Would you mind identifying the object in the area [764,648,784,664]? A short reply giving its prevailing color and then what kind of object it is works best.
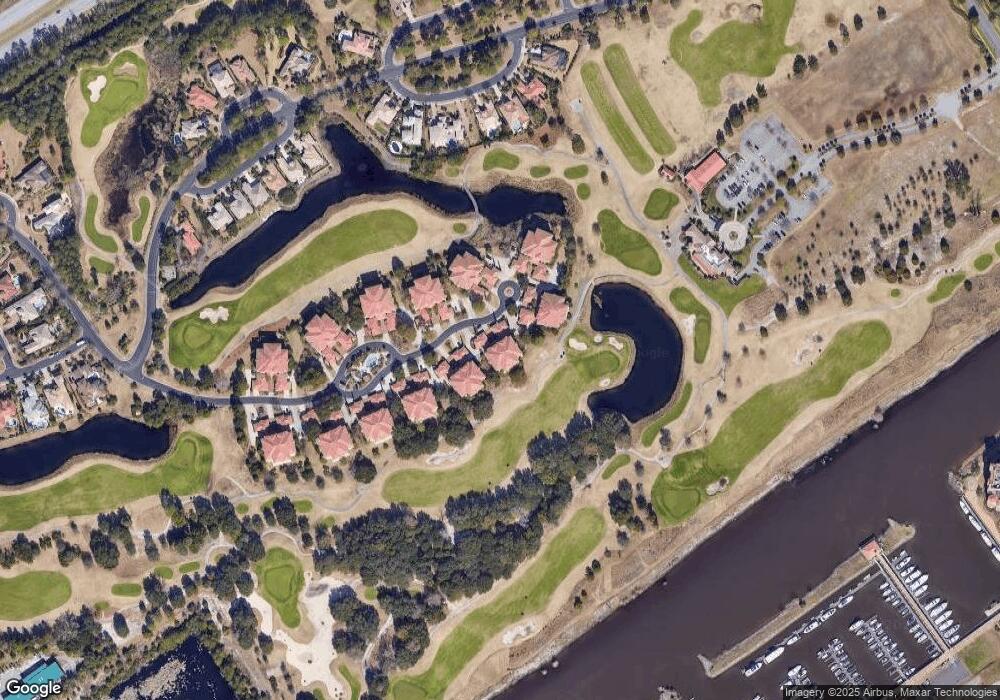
white boat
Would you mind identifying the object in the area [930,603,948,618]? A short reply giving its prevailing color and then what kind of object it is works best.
white boat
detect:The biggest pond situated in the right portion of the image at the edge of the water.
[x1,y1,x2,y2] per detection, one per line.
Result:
[588,283,682,420]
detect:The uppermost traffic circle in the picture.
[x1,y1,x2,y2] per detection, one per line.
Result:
[719,221,748,250]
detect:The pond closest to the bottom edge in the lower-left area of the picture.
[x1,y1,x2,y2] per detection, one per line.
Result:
[110,637,236,700]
